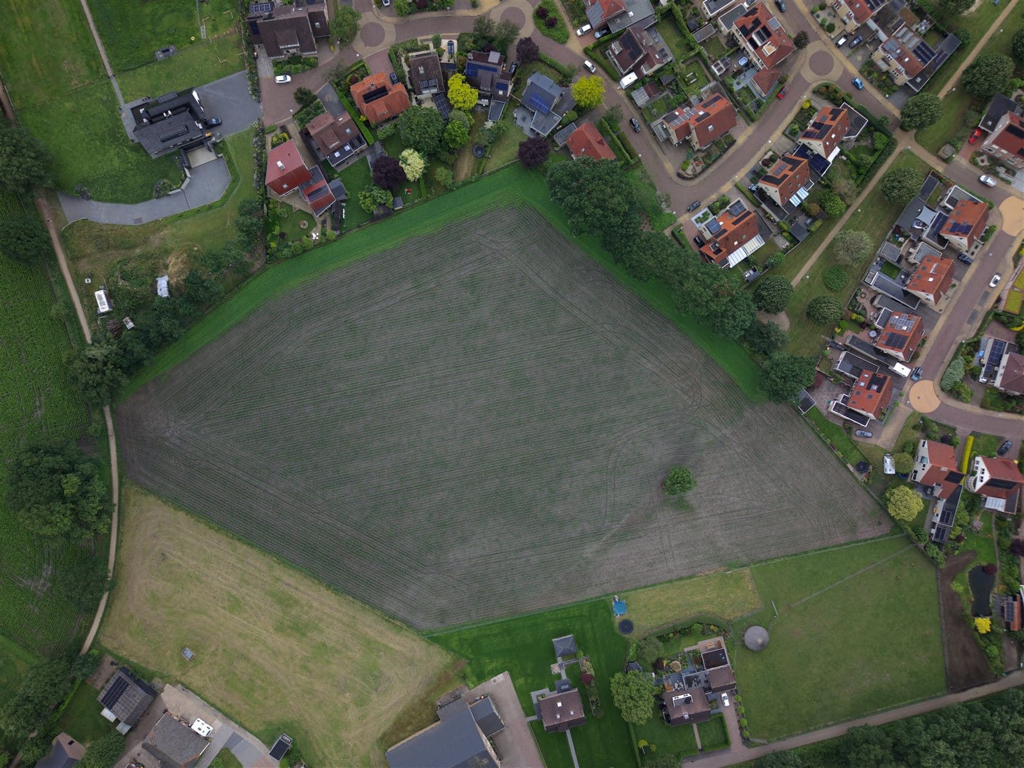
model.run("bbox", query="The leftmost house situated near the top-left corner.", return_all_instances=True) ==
[132,86,217,169]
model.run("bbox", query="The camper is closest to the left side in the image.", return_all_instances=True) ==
[98,289,113,311]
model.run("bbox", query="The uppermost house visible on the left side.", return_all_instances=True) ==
[246,0,331,61]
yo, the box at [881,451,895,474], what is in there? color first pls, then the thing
white camper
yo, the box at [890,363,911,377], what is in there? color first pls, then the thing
white camper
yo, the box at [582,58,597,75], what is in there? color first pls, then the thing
white car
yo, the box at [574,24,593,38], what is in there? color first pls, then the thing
white car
